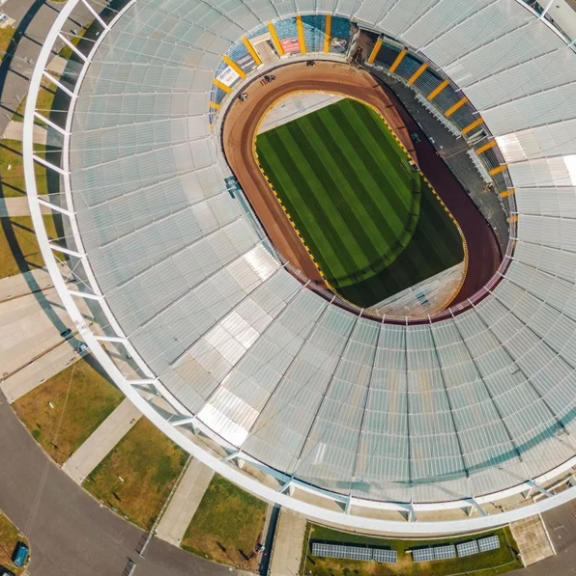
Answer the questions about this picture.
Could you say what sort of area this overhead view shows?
sports ground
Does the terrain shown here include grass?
Yes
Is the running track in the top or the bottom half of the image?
top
